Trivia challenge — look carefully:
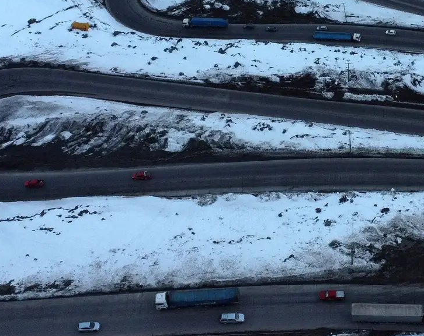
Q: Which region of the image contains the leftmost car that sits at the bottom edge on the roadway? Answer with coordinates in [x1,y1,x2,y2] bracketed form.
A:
[75,321,103,335]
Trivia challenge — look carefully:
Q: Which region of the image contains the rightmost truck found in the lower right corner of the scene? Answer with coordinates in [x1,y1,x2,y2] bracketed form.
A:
[352,300,424,328]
